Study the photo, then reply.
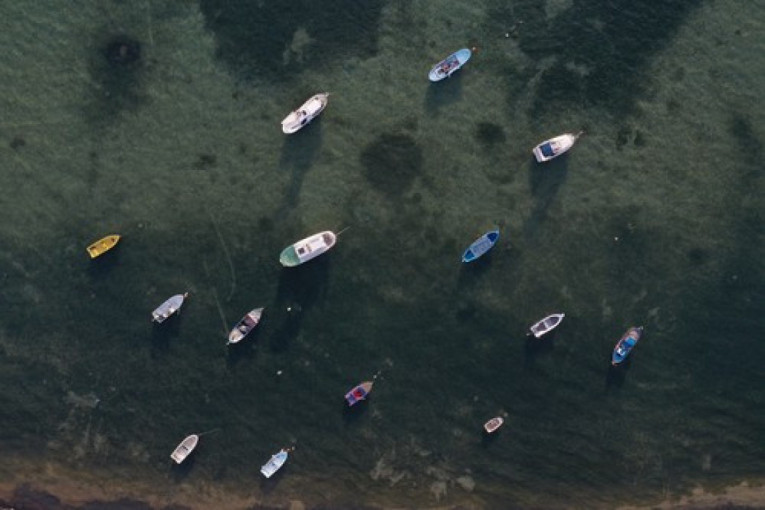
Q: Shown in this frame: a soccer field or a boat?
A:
boat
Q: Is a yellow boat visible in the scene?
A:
Yes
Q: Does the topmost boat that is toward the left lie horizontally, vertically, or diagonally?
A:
diagonally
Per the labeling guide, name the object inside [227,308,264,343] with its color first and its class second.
white boat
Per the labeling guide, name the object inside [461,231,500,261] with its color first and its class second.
blue boat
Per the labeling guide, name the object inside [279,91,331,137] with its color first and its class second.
white boat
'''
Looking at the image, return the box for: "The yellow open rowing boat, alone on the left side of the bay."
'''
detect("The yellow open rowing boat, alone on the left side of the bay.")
[87,235,122,258]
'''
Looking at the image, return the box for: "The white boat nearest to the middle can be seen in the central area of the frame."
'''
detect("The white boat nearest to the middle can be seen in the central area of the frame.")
[278,233,336,267]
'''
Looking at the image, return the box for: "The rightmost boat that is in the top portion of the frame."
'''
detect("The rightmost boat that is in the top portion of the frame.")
[529,132,583,163]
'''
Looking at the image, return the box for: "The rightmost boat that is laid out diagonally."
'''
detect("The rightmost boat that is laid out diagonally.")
[613,329,642,364]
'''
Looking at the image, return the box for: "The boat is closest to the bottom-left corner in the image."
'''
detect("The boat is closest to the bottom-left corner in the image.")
[171,435,199,463]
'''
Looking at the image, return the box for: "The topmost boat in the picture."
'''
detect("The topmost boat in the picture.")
[428,48,471,81]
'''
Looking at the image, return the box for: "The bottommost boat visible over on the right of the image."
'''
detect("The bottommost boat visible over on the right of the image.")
[486,417,504,432]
